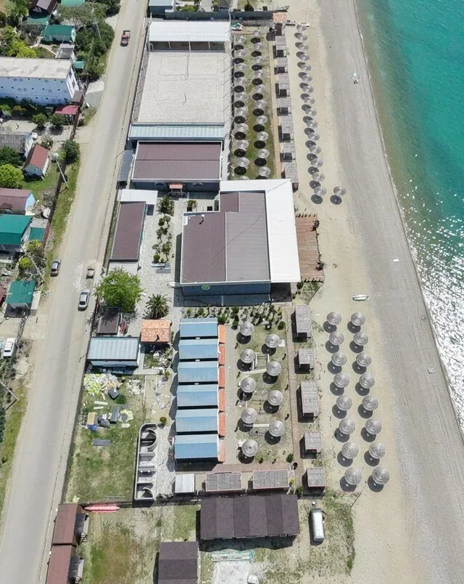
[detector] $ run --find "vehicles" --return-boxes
[49,259,62,275]
[311,509,326,542]
[84,267,95,279]
[79,288,90,310]
[1,338,14,358]
[121,31,128,46]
